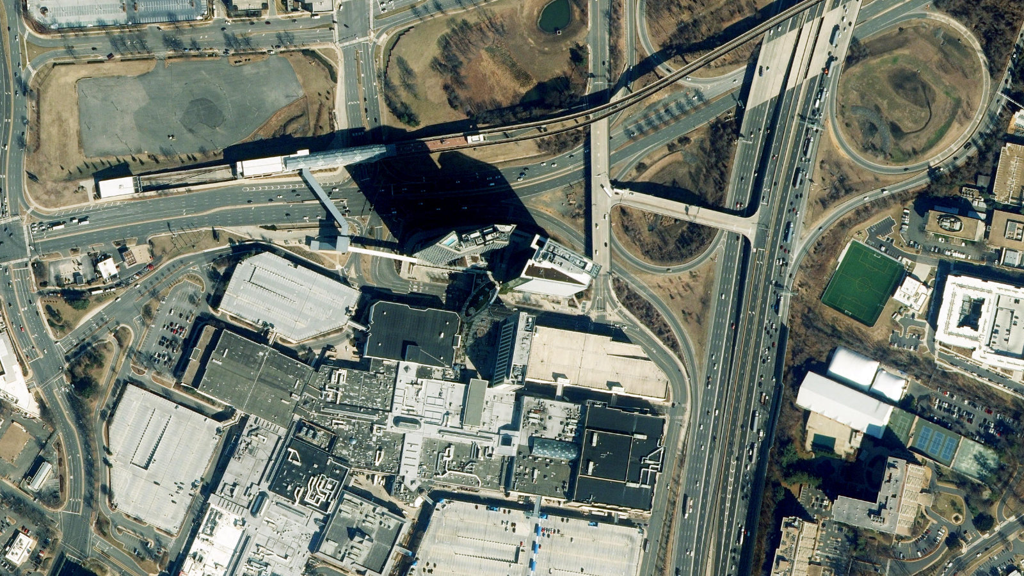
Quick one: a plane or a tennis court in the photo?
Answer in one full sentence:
There is a tennis court in the scene.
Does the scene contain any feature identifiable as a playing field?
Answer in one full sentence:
Yes, looking at the shot, I can spot a playing field.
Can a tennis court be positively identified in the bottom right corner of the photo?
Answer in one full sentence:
Yes, a tennis court appears in the bottom right corner of the photo.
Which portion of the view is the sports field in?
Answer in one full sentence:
Look in the right portion of the view to spot the sports field.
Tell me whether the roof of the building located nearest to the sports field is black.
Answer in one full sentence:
No, the roof of the building located nearest to the sports field is actually white.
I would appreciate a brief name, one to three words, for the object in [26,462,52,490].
building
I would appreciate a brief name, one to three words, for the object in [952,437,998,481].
tennis court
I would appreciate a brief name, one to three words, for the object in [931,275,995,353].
building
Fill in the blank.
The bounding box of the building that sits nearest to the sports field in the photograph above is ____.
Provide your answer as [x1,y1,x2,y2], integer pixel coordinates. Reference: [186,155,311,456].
[891,276,933,312]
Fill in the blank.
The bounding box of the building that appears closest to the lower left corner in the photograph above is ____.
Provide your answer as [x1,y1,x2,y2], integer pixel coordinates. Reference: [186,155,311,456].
[5,532,33,565]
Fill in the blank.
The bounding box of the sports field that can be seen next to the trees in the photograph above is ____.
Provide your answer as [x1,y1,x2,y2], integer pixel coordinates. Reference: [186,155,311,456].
[822,240,904,327]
